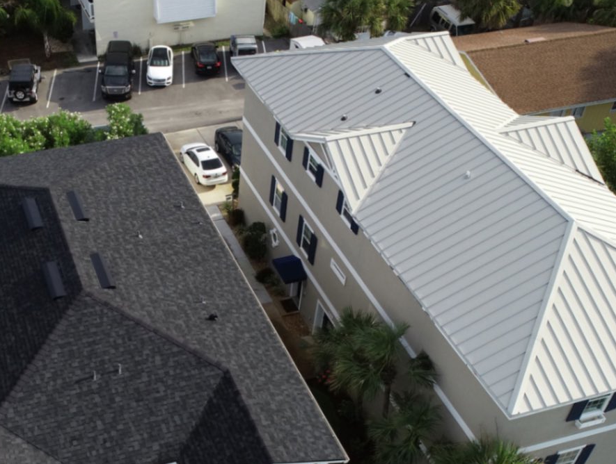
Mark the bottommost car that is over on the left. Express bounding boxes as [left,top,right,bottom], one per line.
[181,146,231,193]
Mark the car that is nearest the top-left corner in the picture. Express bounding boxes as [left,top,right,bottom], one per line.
[5,64,40,108]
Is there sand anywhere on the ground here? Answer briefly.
No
